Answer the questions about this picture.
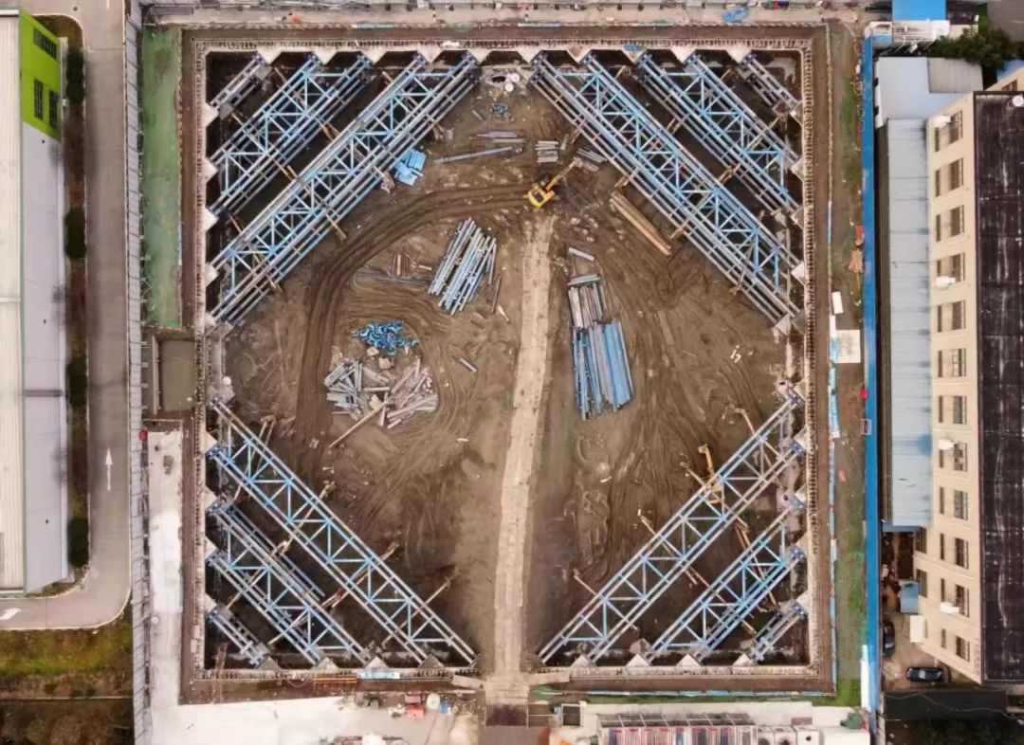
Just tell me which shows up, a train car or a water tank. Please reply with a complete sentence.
This aerial view contains a water tank.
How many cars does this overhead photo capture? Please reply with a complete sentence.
The count of cars comes to 2.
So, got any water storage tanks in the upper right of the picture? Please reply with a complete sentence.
No, looking in the upper right of the picture, there is no water storage tank.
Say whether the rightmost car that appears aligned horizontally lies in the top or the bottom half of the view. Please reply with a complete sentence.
It is in the bottom half that the rightmost car that appears aligned horizontally appears.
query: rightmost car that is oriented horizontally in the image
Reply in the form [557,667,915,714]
[904,663,945,684]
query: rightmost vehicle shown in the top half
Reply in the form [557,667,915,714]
[524,157,579,213]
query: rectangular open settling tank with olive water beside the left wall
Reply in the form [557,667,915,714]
[151,330,194,418]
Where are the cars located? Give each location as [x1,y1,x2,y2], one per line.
[904,663,945,684]
[879,618,899,658]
